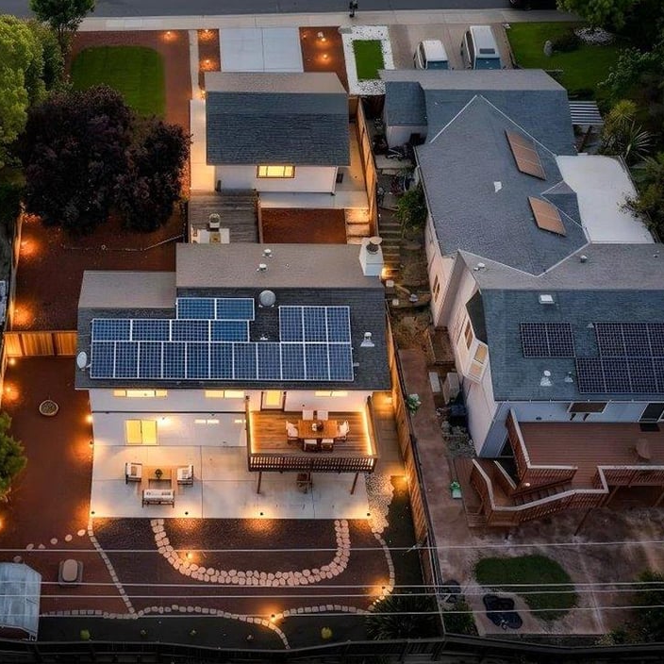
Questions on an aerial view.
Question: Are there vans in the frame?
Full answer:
Yes, the picture does show a van.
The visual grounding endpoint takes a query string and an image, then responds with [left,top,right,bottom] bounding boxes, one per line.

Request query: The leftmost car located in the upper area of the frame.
[418,37,451,71]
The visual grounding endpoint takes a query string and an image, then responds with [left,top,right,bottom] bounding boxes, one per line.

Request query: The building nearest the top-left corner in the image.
[206,72,350,195]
